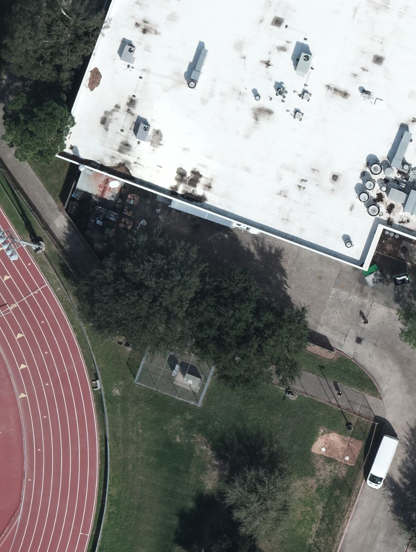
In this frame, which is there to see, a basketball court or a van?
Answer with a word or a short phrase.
van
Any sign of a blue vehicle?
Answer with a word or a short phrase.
No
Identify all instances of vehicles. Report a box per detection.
[368,436,398,490]
[233,223,261,240]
